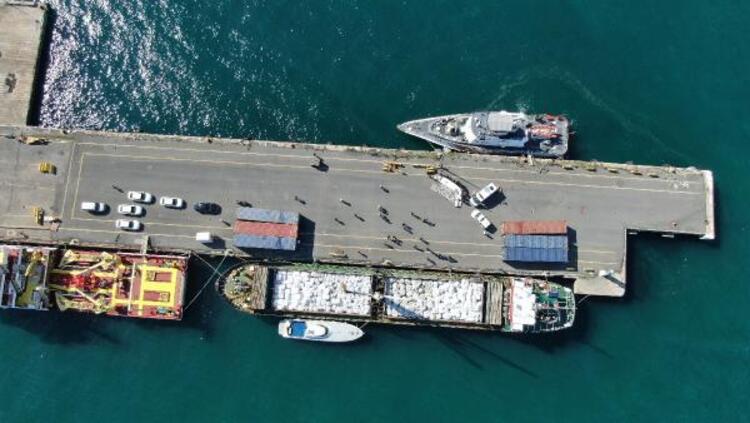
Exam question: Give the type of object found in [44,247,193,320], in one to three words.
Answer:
ship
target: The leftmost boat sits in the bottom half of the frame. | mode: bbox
[0,244,53,310]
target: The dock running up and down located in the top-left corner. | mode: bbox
[0,0,53,128]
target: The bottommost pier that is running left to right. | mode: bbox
[0,126,716,296]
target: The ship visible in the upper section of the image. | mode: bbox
[398,110,577,159]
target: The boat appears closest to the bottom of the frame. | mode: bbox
[278,318,364,342]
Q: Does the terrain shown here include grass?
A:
No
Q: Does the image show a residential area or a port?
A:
port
